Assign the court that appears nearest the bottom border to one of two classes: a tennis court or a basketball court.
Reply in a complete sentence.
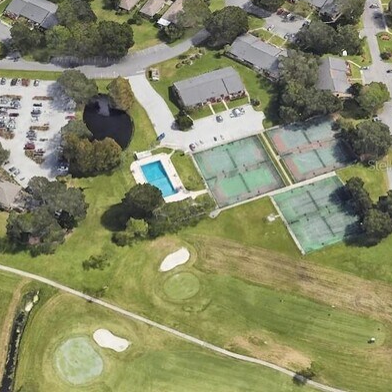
The court that appears nearest the bottom border can be classified as a tennis court.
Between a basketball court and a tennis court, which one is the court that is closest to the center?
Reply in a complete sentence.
The court that is closest to the center can be classified as a tennis court.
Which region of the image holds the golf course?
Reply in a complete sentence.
The golf course appears toward the bottom of the photo.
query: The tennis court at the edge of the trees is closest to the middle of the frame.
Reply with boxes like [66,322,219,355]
[190,136,288,206]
